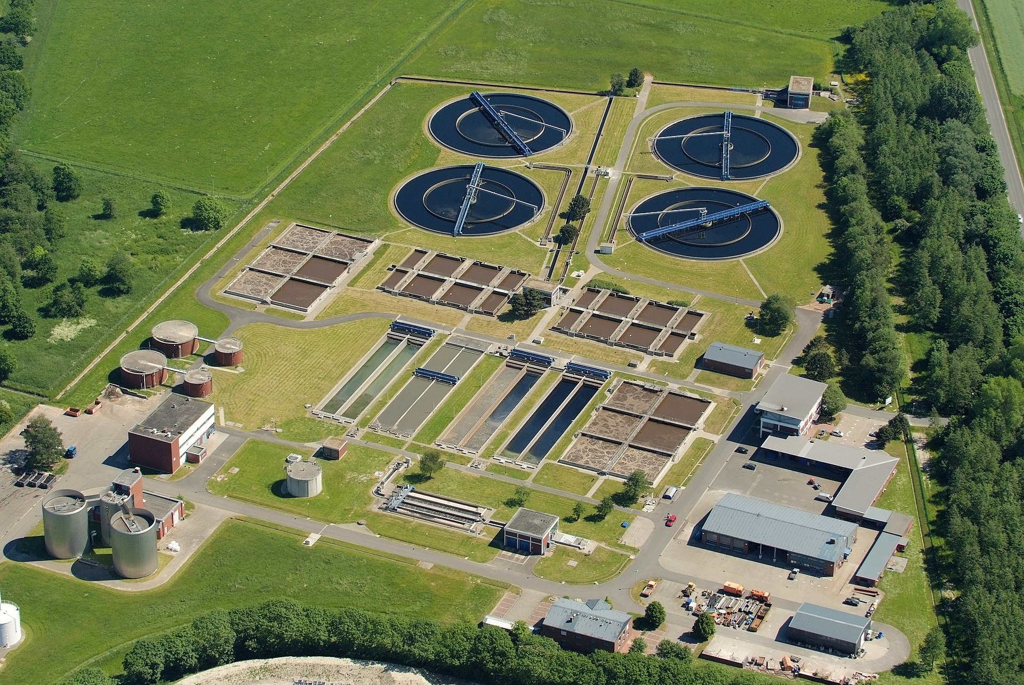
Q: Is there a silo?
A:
Yes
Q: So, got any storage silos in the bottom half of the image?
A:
Yes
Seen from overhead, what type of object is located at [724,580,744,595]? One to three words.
vehicle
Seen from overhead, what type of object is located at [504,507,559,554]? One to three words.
house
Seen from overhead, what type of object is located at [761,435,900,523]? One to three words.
building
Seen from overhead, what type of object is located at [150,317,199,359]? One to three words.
storage tank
